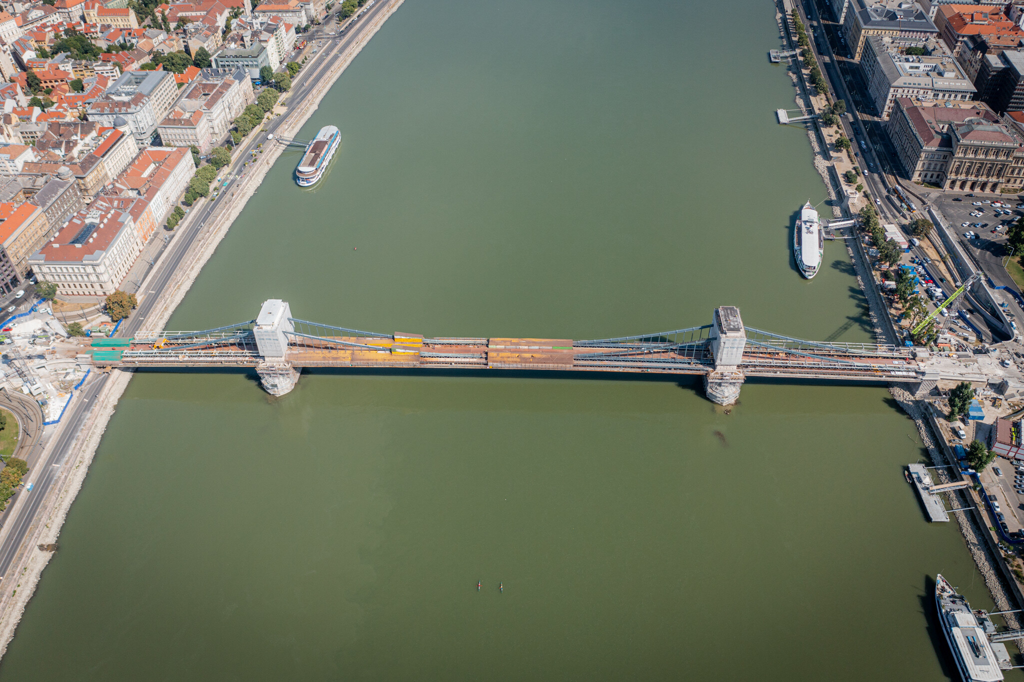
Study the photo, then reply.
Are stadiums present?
No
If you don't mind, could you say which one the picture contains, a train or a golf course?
train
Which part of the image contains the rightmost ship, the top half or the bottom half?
bottom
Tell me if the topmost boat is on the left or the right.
left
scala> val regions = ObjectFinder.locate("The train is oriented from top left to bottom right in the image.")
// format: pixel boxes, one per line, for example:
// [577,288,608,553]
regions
[893,185,919,212]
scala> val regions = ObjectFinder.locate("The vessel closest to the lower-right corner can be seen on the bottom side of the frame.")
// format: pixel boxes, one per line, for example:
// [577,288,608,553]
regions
[933,569,1005,682]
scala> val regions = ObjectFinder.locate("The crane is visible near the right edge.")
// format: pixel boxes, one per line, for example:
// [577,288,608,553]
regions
[912,272,985,345]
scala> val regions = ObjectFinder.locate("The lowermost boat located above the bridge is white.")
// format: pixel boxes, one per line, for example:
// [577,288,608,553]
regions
[794,200,824,282]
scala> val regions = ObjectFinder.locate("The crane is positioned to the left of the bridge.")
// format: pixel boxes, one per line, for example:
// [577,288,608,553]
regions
[0,329,52,395]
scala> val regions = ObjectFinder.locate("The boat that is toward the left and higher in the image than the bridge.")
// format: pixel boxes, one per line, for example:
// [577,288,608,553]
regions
[297,124,342,188]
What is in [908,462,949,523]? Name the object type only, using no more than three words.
pier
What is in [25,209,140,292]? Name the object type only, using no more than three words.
building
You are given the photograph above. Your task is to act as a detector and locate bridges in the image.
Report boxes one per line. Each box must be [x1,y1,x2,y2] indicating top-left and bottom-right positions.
[90,298,928,410]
